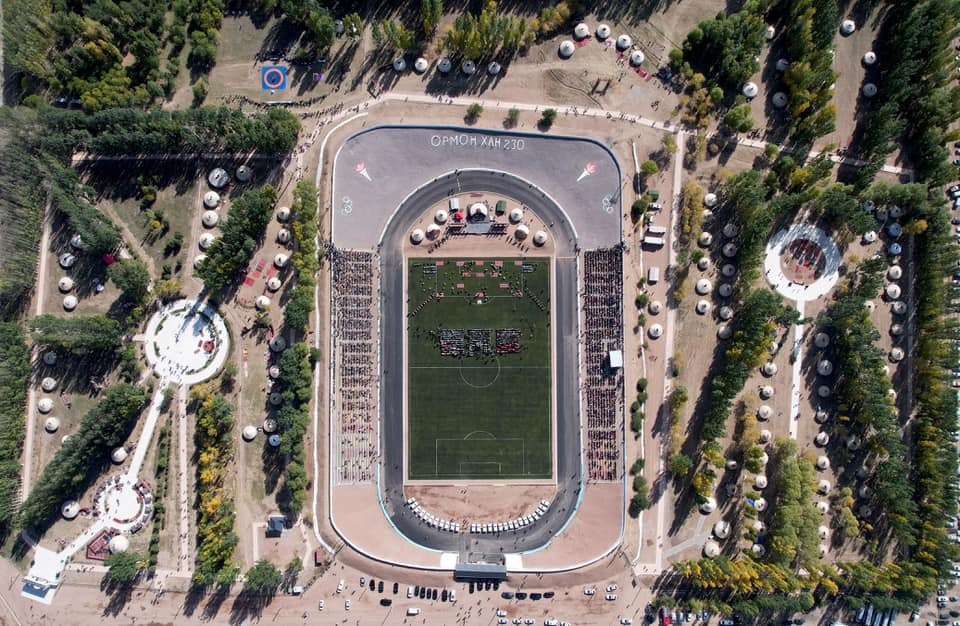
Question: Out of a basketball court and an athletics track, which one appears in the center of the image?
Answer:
athletics track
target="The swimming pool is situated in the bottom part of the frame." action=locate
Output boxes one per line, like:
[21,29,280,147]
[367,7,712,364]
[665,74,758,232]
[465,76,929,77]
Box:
[23,584,46,598]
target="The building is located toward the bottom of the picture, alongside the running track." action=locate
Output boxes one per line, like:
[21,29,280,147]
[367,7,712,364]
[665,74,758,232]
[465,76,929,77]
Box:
[456,560,505,579]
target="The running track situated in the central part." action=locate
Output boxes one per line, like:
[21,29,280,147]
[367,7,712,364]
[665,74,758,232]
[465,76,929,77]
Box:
[381,171,578,553]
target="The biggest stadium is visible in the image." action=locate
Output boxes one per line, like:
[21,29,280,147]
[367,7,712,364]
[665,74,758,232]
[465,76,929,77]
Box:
[330,125,626,574]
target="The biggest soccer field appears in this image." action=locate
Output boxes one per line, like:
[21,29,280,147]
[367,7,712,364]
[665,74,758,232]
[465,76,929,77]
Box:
[405,254,556,485]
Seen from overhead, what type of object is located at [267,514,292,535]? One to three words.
house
